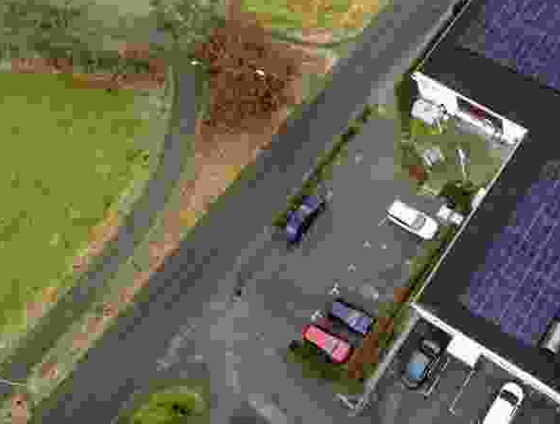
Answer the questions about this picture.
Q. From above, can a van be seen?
Yes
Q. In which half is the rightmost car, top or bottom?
bottom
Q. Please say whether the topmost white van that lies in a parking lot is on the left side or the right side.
right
